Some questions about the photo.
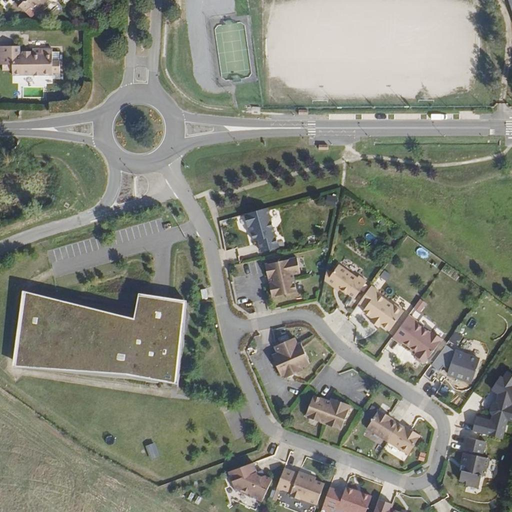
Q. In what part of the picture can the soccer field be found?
top right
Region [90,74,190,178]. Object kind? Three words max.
roundabout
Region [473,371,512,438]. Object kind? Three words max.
house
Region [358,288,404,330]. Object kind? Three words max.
house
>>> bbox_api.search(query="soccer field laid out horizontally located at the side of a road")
[261,0,484,105]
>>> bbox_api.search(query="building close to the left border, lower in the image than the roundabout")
[12,291,186,384]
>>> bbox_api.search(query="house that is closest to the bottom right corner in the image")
[462,438,490,486]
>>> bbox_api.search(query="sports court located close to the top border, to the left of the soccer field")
[210,16,258,88]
